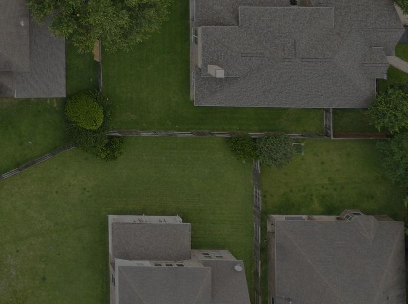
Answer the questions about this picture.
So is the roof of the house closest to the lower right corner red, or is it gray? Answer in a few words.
gray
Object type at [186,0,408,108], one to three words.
house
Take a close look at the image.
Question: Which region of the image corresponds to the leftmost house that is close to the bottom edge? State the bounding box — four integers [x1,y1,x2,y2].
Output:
[105,215,248,304]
